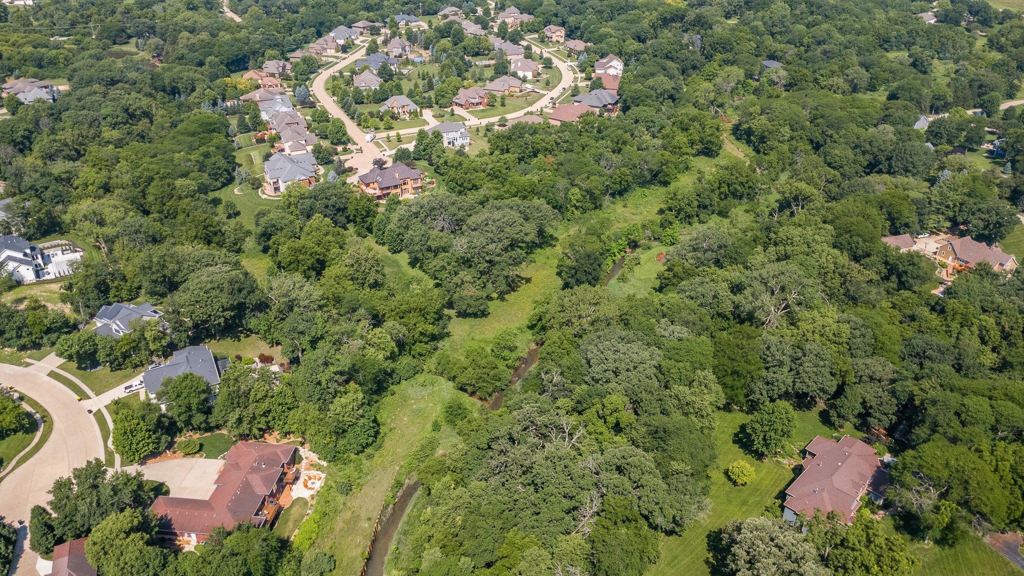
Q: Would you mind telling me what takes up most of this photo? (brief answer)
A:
trees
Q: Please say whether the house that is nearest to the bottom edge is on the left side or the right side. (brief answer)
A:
left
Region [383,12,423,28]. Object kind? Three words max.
house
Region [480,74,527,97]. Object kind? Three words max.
house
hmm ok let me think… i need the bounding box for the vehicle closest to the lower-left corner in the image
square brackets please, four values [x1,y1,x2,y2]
[121,380,145,393]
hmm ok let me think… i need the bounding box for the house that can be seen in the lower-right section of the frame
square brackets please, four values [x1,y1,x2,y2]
[783,435,890,546]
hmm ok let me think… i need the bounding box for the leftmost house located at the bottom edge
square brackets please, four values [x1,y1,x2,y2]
[45,536,90,576]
